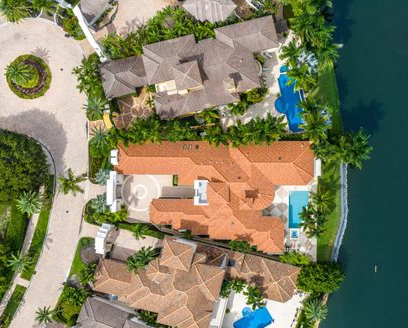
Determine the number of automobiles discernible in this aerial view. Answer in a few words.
0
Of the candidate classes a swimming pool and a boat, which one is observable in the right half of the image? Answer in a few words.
swimming pool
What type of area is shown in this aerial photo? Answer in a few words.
residential area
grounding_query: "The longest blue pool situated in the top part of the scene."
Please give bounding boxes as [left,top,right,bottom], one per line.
[272,72,306,134]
